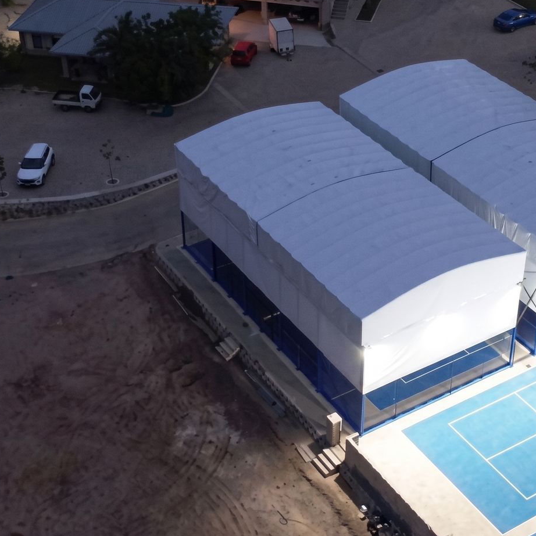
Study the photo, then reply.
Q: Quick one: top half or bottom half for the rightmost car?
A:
top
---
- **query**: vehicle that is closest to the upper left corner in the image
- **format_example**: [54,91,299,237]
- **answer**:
[49,80,101,110]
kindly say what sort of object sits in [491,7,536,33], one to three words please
car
